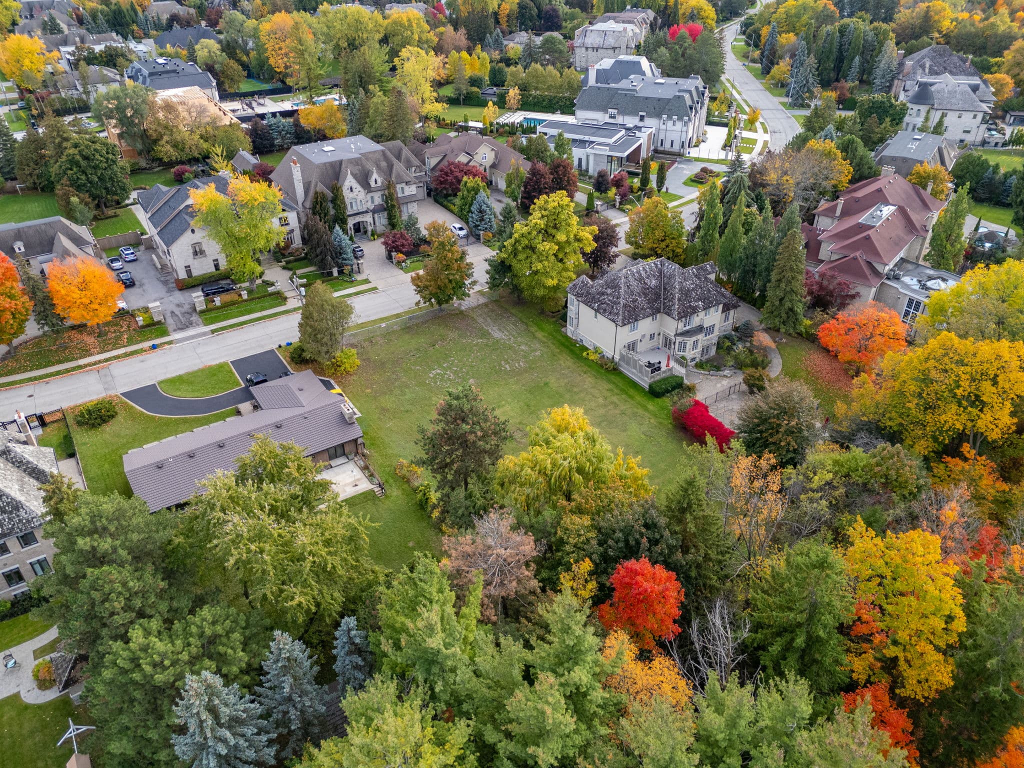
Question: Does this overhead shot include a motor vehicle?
Yes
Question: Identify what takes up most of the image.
trees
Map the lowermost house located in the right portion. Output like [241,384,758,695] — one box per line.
[565,250,742,389]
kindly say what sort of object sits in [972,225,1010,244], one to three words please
building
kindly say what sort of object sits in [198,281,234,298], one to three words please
car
